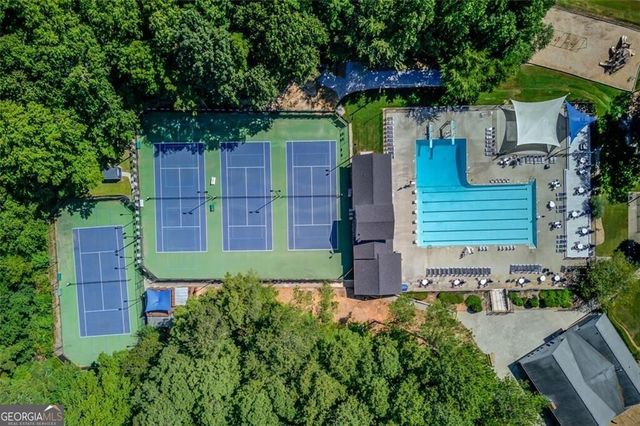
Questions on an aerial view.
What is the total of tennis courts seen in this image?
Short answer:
4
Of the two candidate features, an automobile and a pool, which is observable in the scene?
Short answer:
pool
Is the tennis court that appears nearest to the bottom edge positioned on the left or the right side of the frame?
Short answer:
left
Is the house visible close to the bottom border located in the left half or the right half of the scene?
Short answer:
right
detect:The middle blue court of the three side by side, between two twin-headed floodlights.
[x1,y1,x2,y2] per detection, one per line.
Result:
[212,112,281,281]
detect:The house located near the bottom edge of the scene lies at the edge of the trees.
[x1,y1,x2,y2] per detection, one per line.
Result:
[518,310,640,426]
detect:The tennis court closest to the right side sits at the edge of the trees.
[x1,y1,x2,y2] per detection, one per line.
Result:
[278,112,352,280]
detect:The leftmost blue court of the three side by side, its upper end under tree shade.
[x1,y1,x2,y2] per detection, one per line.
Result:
[137,111,214,281]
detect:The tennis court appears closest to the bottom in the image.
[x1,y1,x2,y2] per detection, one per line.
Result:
[57,199,141,367]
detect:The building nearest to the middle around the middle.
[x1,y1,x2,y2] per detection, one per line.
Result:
[352,152,402,297]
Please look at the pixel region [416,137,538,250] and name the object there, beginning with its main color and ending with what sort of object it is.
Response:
blue swimming pool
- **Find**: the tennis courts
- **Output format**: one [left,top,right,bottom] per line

[212,112,281,281]
[137,111,214,281]
[278,112,352,280]
[57,199,141,367]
